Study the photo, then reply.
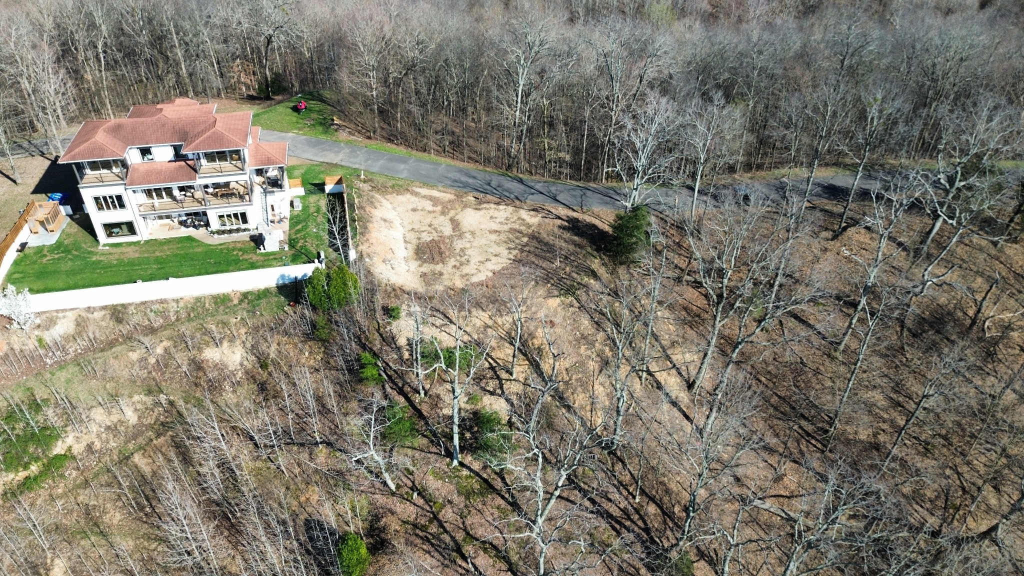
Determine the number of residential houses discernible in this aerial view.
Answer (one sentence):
Only 1 residential house is visible.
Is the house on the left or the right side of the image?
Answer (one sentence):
You can find the house on the left side of the picture.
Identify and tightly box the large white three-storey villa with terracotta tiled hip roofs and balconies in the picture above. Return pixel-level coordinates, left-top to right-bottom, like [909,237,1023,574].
[54,93,291,243]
